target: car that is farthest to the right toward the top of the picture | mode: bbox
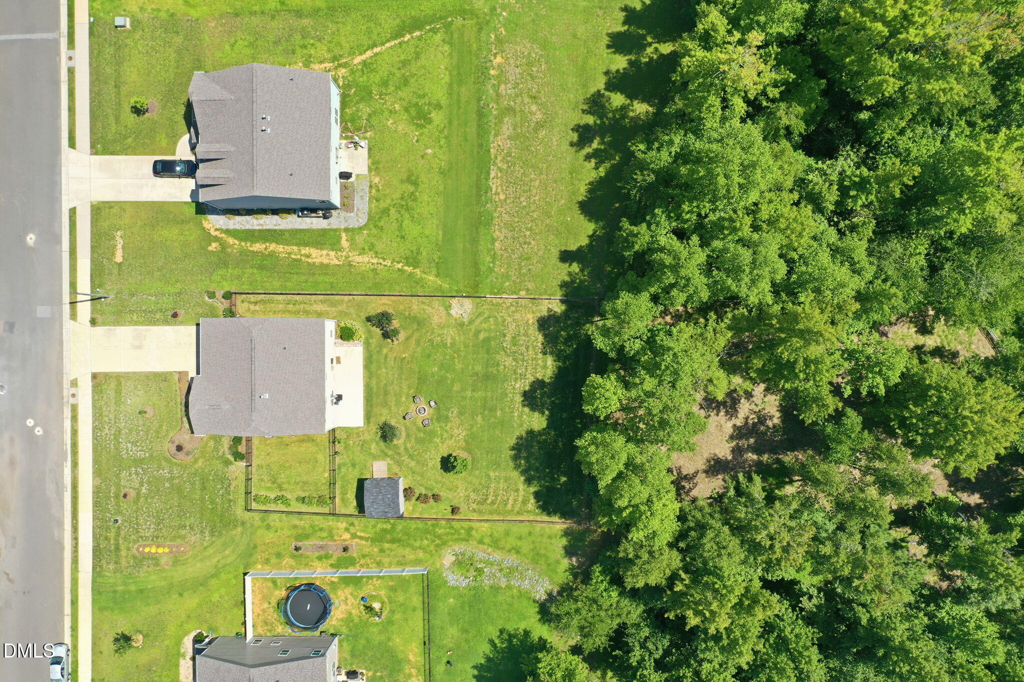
[152,157,199,179]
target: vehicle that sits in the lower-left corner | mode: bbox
[47,642,71,682]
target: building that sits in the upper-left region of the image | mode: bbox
[189,63,343,208]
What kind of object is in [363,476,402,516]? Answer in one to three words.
shed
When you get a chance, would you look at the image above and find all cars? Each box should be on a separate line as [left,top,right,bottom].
[152,157,199,179]
[47,642,71,682]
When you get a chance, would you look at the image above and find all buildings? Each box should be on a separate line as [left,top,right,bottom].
[188,317,339,437]
[189,63,343,208]
[363,476,402,516]
[194,636,341,682]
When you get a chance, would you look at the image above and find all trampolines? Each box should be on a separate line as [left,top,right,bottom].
[280,585,330,636]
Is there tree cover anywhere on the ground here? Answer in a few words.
Yes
